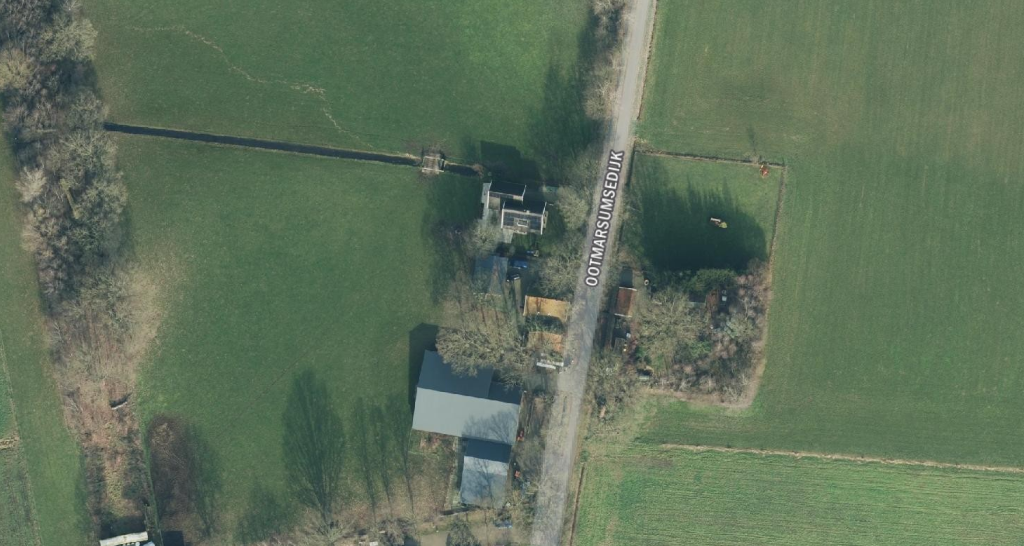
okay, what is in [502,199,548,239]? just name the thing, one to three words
house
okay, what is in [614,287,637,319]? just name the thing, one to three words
house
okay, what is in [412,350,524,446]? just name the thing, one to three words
barn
